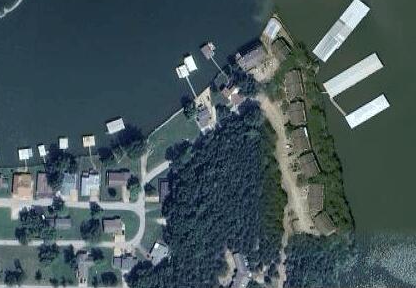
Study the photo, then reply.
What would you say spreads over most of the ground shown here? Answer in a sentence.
Most of the picture is covered by water.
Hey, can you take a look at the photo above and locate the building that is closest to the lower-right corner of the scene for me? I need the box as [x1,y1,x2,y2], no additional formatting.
[314,210,336,236]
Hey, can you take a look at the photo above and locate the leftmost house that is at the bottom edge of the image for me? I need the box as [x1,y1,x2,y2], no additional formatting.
[78,254,95,287]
